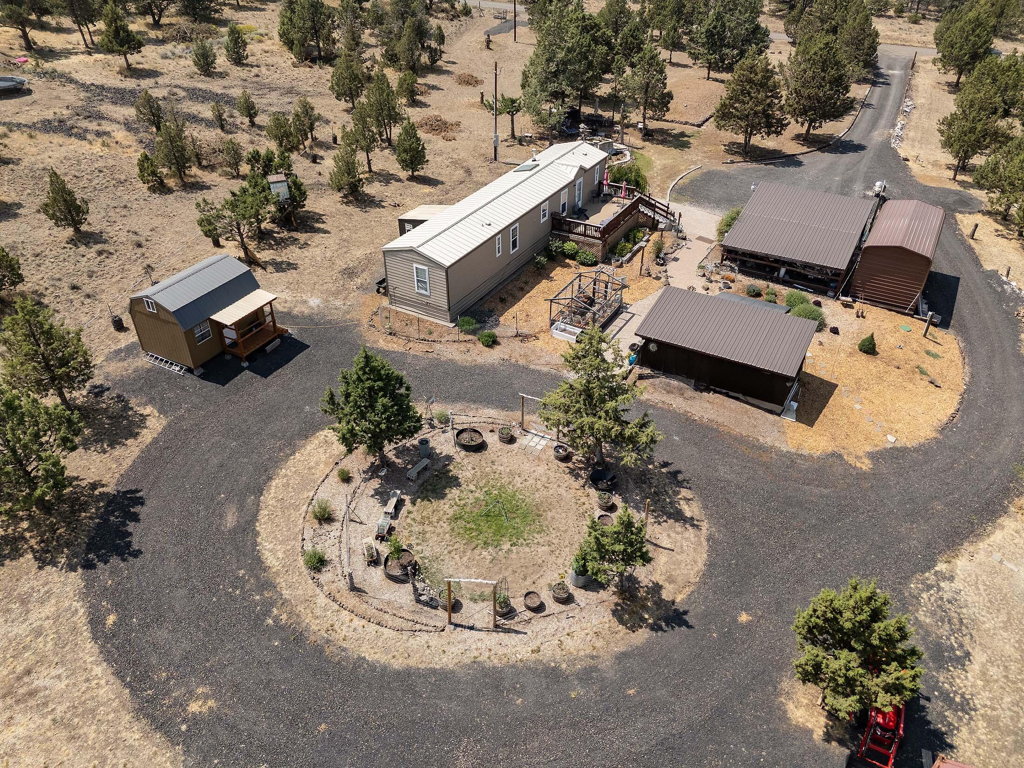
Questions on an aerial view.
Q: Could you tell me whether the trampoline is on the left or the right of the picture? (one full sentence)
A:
The trampoline is on the left side of the image.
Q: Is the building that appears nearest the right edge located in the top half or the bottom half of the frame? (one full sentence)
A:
Seen from above, the building that appears nearest the right edge lies in the top half of the view.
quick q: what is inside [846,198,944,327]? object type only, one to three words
building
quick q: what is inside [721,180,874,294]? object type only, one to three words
barn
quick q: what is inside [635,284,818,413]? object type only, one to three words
shed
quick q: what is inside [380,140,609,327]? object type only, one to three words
house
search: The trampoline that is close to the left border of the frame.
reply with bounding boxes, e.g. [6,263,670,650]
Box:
[0,79,30,99]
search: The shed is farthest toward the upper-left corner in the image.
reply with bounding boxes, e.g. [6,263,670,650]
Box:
[126,254,293,375]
